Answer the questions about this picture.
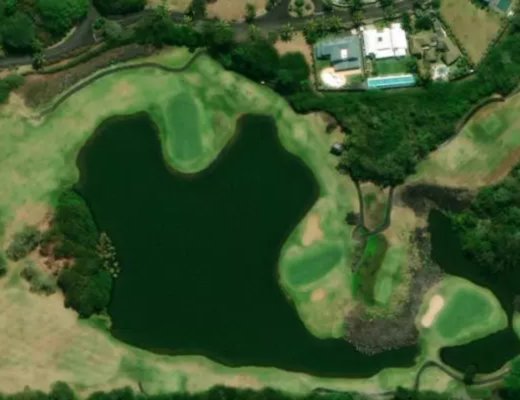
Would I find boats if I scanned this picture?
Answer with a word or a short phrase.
No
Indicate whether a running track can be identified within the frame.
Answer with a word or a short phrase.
No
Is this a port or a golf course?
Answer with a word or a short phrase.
golf course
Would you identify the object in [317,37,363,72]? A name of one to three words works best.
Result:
house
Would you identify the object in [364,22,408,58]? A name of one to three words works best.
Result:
house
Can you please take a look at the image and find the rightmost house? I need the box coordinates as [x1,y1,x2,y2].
[411,31,463,64]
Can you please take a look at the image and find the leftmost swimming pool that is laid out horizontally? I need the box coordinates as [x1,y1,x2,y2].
[368,74,416,90]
